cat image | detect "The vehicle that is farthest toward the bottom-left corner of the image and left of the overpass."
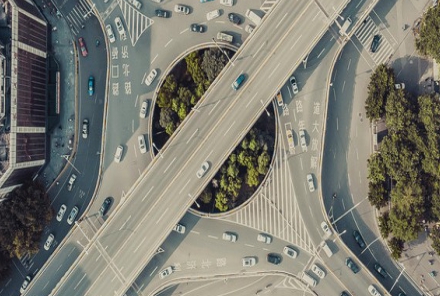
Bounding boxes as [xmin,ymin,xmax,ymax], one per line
[17,276,31,293]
